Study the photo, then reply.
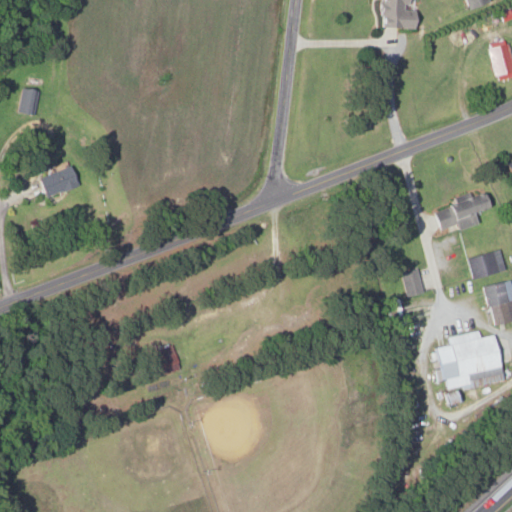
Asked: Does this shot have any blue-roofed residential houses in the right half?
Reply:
No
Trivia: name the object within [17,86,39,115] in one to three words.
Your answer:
shed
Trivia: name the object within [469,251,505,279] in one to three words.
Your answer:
building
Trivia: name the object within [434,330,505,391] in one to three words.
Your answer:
building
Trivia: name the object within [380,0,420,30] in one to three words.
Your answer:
house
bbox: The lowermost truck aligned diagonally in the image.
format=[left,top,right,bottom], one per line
[482,480,512,508]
